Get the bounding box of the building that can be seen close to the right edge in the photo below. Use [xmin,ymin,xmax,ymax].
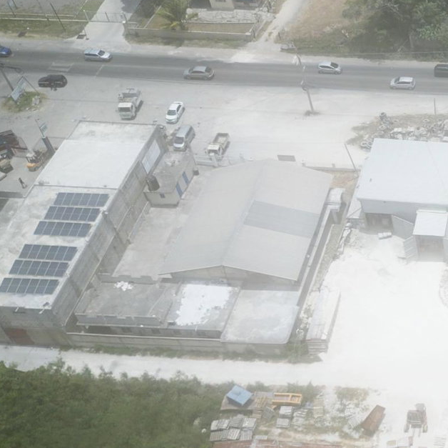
[340,139,448,252]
